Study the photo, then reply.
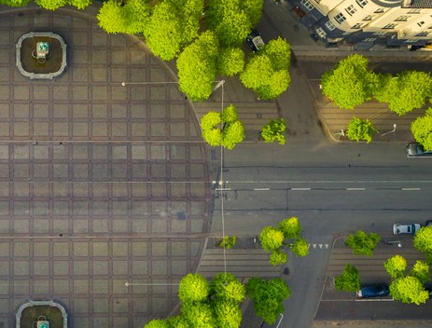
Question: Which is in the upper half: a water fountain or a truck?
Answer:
water fountain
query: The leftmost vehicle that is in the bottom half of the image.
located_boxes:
[355,282,390,299]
